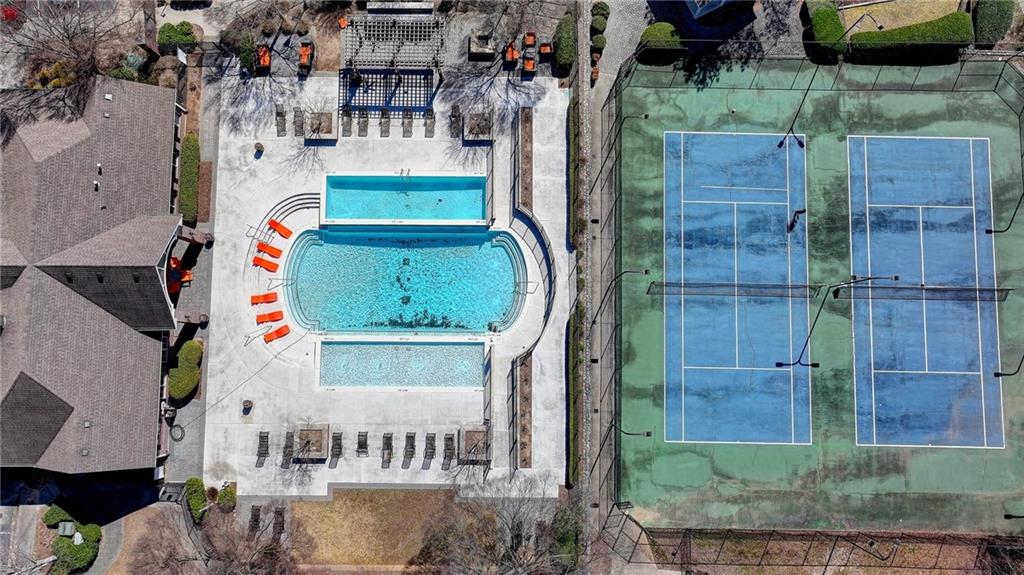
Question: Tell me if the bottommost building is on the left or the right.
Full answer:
It is on the left.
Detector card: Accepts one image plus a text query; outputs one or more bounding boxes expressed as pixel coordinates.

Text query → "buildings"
[683,0,732,20]
[0,75,201,473]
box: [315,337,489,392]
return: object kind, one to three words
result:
swimming pool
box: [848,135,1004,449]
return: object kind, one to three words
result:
tennis court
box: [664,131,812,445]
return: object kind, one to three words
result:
tennis court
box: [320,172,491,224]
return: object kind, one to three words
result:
swimming pool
